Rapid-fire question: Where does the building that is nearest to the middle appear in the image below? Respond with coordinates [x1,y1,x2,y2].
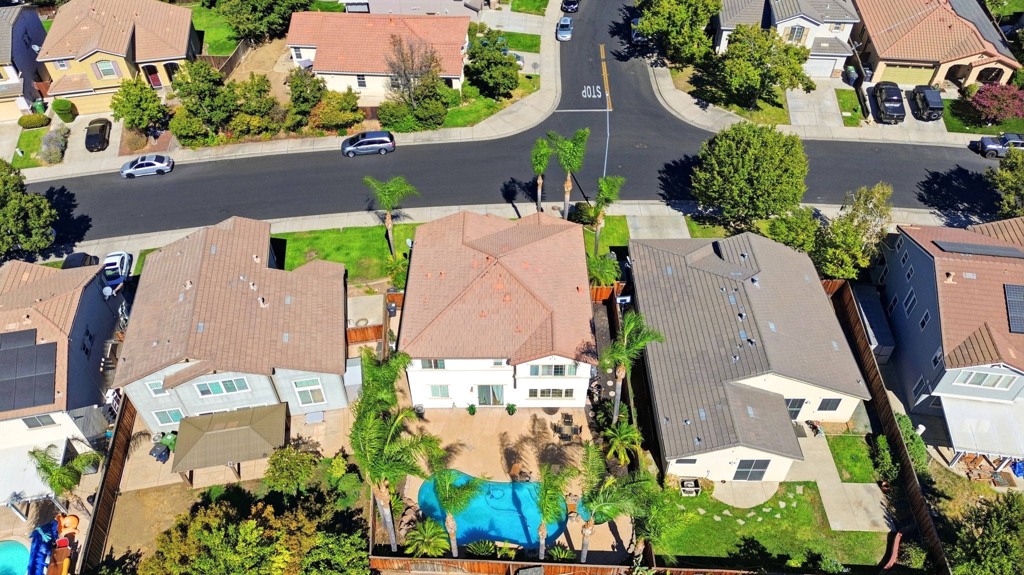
[396,206,598,412]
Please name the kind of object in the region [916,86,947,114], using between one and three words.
car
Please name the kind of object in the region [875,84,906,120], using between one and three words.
vehicle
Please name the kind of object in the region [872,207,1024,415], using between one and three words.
house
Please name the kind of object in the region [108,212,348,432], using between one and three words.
house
